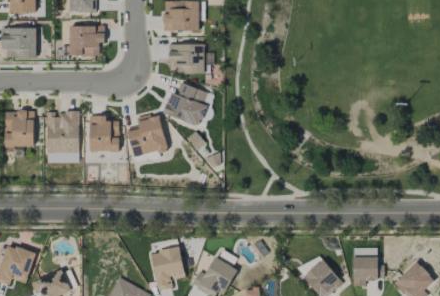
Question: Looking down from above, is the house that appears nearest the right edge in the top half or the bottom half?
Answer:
bottom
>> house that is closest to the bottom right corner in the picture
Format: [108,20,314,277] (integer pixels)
[396,262,437,296]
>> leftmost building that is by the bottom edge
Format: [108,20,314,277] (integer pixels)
[0,246,37,284]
